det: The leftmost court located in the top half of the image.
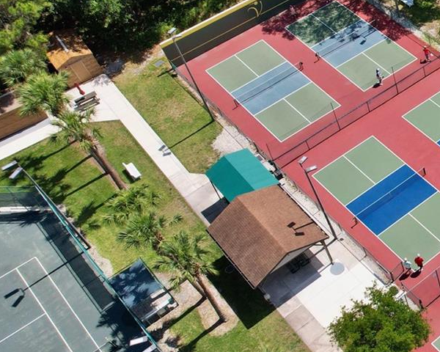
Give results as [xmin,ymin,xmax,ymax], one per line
[204,40,341,142]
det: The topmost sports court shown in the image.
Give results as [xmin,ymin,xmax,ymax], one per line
[284,0,416,91]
